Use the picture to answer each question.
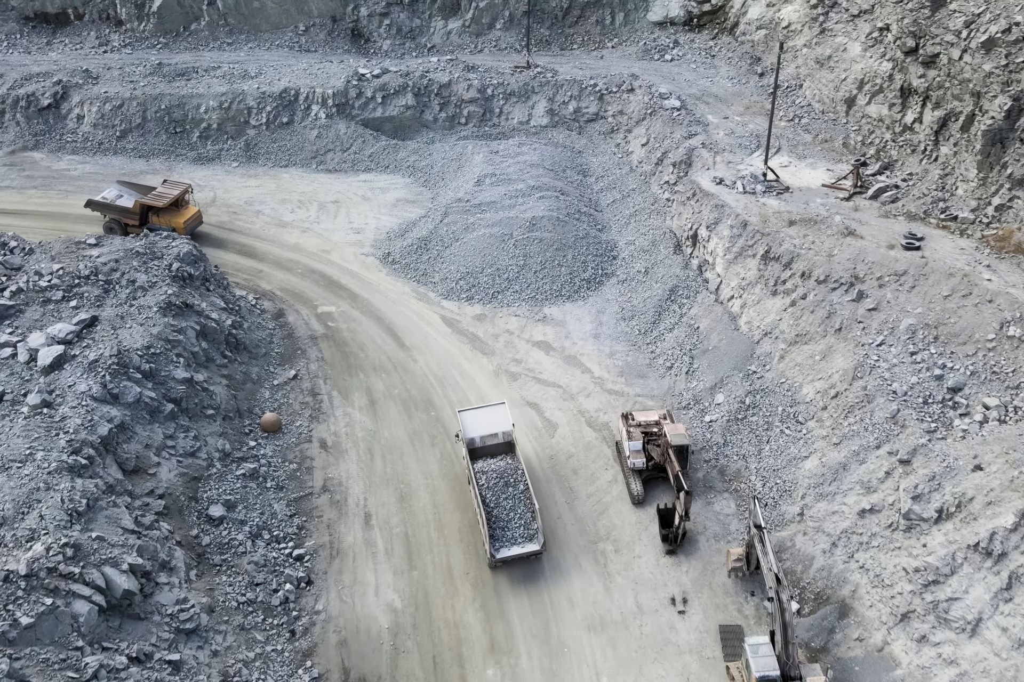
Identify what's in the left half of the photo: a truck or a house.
truck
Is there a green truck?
No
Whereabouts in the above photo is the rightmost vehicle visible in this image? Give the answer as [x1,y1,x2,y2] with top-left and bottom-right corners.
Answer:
[720,494,828,682]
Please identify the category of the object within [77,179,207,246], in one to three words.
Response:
truck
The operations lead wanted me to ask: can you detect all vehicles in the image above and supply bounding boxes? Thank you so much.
[77,179,207,246]
[612,413,697,544]
[720,494,828,682]
[447,404,546,572]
